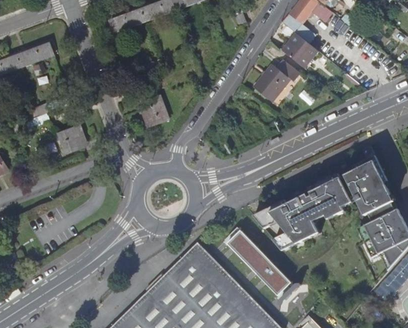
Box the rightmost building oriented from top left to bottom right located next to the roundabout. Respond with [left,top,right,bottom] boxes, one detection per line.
[224,228,293,298]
